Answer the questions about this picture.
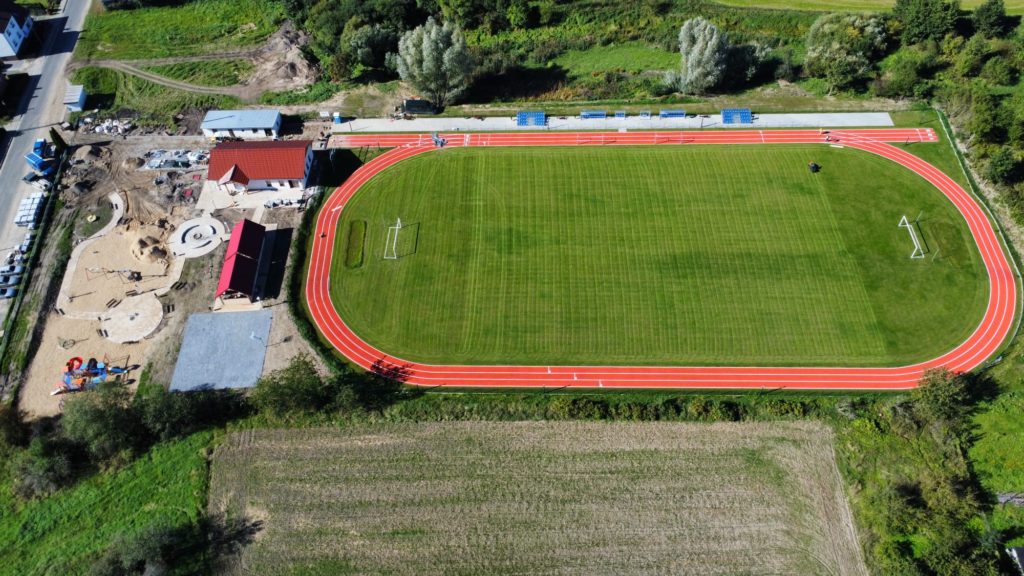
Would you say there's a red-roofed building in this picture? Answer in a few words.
Yes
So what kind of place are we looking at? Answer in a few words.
sports ground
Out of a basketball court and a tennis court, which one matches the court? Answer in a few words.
basketball court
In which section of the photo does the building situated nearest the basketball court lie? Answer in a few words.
left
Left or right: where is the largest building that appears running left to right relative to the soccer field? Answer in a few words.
to its left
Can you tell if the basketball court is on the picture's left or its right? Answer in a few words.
left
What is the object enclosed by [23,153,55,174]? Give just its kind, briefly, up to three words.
truck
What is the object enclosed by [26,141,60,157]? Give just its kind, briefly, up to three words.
vehicle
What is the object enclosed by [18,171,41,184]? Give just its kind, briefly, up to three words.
vehicle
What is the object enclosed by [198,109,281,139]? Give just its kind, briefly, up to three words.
building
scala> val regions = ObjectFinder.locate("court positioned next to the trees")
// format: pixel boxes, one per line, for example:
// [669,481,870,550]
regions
[169,310,272,391]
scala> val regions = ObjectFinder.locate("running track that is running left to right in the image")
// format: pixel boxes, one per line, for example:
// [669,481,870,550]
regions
[307,129,1016,389]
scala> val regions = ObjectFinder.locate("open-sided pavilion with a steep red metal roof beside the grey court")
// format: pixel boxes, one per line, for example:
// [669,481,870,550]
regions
[217,218,267,303]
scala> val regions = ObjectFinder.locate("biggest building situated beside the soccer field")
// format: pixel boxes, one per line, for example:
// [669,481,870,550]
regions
[207,142,315,195]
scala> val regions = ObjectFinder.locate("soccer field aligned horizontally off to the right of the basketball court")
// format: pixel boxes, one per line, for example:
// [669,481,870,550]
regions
[328,143,990,368]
